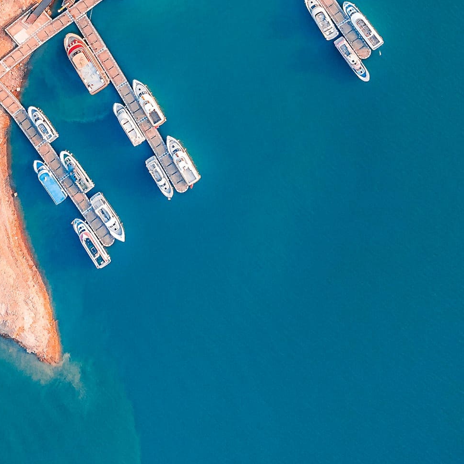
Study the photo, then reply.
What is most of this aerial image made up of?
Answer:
water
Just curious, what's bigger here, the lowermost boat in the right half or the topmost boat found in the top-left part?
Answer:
the topmost boat found in the top-left part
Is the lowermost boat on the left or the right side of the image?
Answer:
left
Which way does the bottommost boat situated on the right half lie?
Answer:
at an angle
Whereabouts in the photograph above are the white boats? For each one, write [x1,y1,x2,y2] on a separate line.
[306,0,338,41]
[90,193,123,243]
[67,35,108,95]
[74,221,109,270]
[133,82,164,127]
[114,104,144,146]
[146,158,171,200]
[168,138,199,185]
[29,108,58,143]
[61,153,95,193]
[345,2,384,50]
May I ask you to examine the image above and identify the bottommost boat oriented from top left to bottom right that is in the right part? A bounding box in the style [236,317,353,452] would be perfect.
[335,38,368,83]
